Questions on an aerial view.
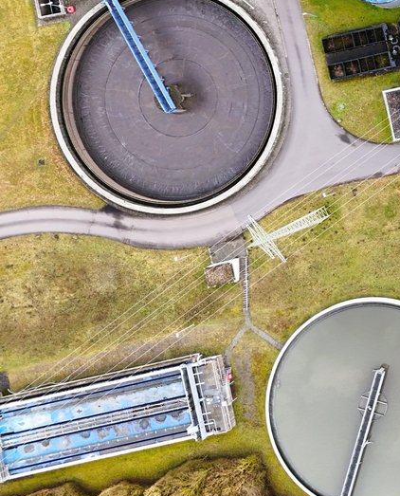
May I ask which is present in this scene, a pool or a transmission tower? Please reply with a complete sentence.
Visible in the photo is a transmission tower.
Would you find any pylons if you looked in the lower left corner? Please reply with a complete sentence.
No, there's no pylon to be seen in the lower left corner.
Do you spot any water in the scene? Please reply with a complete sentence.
Yes, some water is visible.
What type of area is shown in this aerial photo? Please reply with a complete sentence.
What you see here is an industrial area.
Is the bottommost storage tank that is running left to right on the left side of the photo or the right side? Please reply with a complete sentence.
It is on the left.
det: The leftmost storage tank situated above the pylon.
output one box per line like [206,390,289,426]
[51,0,283,214]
